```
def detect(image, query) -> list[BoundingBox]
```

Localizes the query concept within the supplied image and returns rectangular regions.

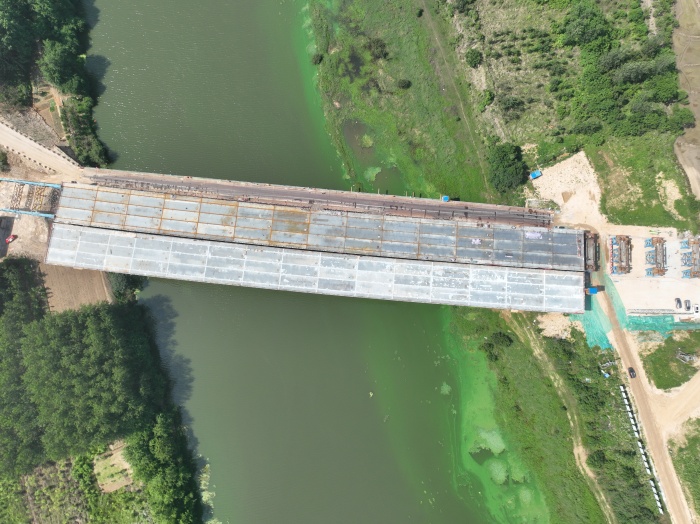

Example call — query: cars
[674,297,682,309]
[4,234,17,243]
[693,303,700,314]
[684,299,691,311]
[628,367,636,378]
